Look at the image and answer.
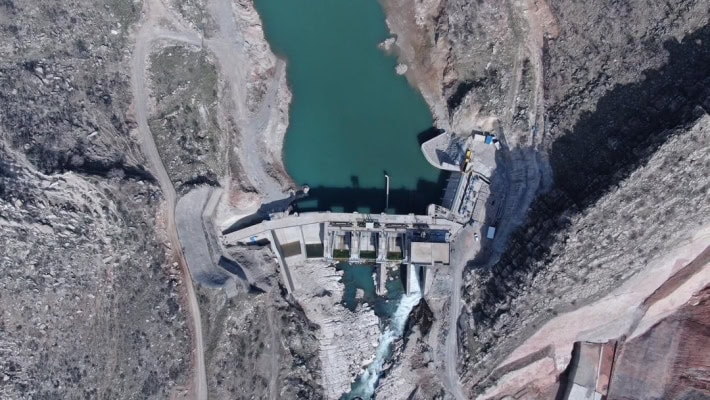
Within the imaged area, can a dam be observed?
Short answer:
Yes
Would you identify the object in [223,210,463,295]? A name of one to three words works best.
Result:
dam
